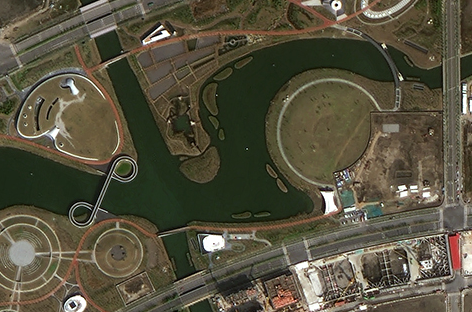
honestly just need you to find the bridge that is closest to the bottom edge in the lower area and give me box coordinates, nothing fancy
[168,271,216,310]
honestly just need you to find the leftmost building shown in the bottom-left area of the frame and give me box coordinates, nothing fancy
[64,295,87,312]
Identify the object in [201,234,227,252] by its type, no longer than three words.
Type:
building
